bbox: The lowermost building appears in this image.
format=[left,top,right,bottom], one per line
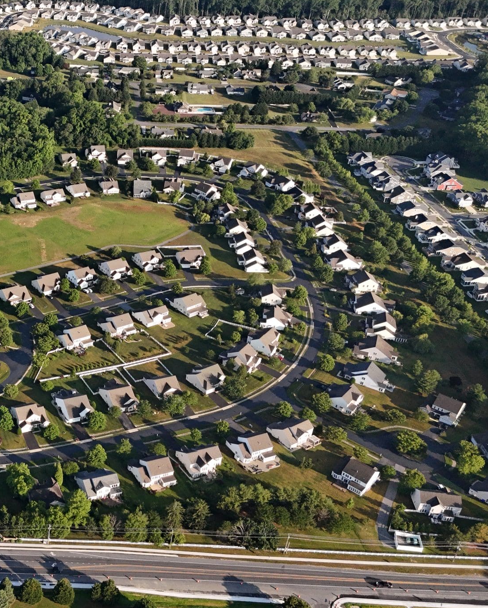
[395,535,425,553]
